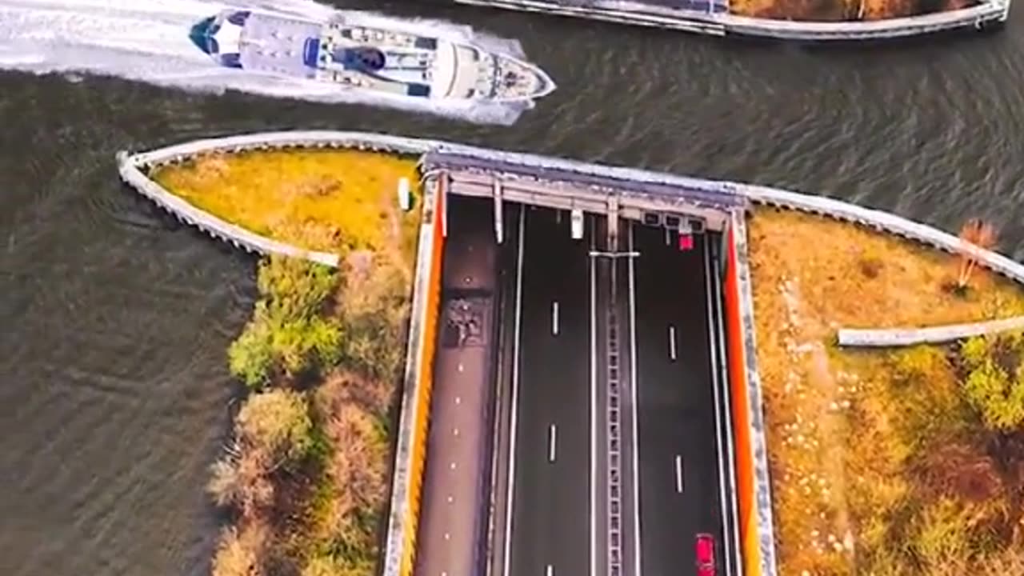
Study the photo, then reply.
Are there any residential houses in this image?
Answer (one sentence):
No, I find no residential house anywhere in the image.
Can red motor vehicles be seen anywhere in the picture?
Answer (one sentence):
Yes, this view includes a red motor vehicle.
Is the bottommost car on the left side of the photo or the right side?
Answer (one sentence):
The bottommost car appears in the right half of the scene.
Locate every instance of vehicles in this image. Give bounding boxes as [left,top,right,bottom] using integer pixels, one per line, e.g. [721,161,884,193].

[568,212,584,242]
[678,225,693,249]
[695,531,720,576]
